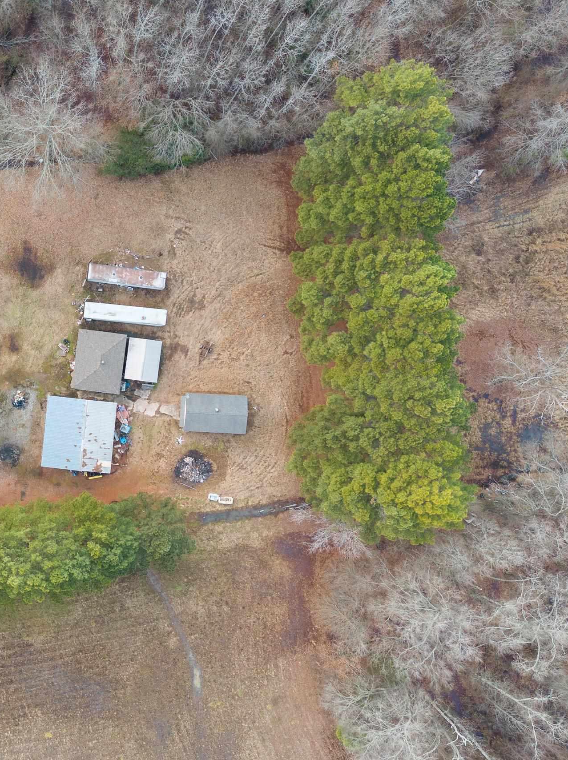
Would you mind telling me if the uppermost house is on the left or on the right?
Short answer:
left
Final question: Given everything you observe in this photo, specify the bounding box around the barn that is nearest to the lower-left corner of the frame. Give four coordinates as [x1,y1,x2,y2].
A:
[41,395,117,473]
